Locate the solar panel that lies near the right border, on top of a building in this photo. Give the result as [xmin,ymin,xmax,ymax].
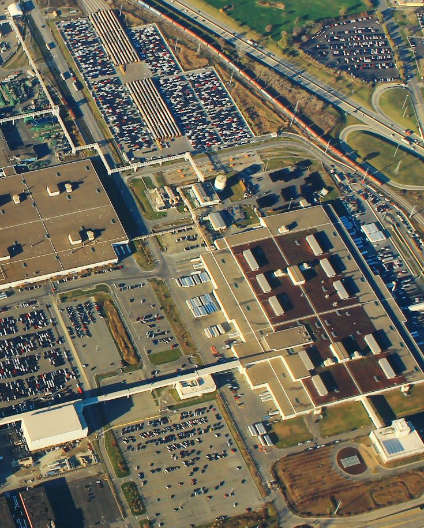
[383,437,405,453]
